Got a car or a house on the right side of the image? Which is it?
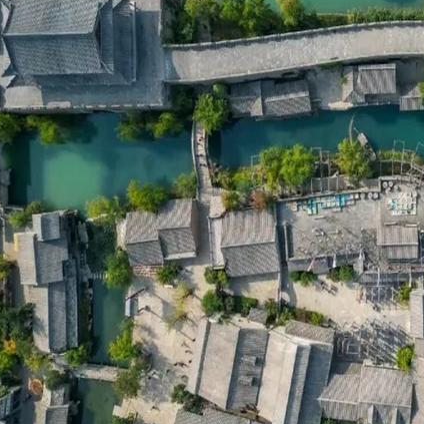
house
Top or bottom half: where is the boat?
top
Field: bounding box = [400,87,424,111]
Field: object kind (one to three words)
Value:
house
